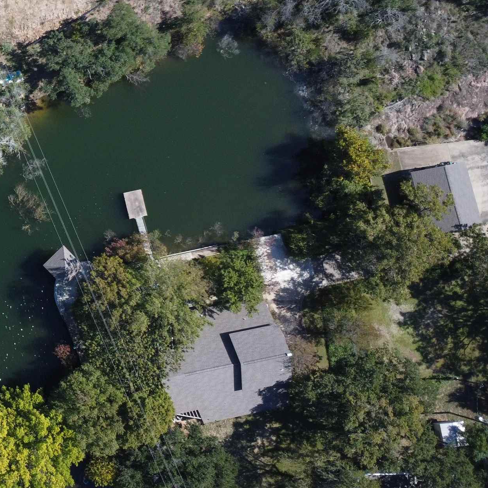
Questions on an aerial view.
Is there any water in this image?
Yes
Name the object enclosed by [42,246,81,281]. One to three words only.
gazebo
